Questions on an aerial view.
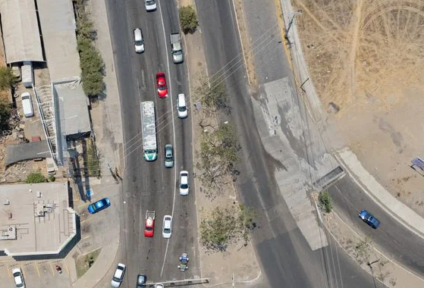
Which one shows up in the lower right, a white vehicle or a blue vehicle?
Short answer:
blue vehicle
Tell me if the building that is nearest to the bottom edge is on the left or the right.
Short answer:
left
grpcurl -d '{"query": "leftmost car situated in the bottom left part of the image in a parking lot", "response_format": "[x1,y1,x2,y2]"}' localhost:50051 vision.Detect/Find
[12,267,25,288]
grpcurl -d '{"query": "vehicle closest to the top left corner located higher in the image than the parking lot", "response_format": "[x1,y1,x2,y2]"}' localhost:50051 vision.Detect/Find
[21,60,34,91]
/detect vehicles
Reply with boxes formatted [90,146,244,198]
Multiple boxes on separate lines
[144,210,154,237]
[12,267,25,288]
[144,0,155,11]
[86,198,111,213]
[155,282,163,288]
[134,27,144,53]
[21,94,34,119]
[179,171,189,196]
[21,60,34,91]
[111,262,126,288]
[358,211,381,229]
[165,145,174,168]
[156,72,168,97]
[162,215,173,238]
[171,32,182,63]
[142,98,159,162]
[176,94,187,119]
[135,274,147,288]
